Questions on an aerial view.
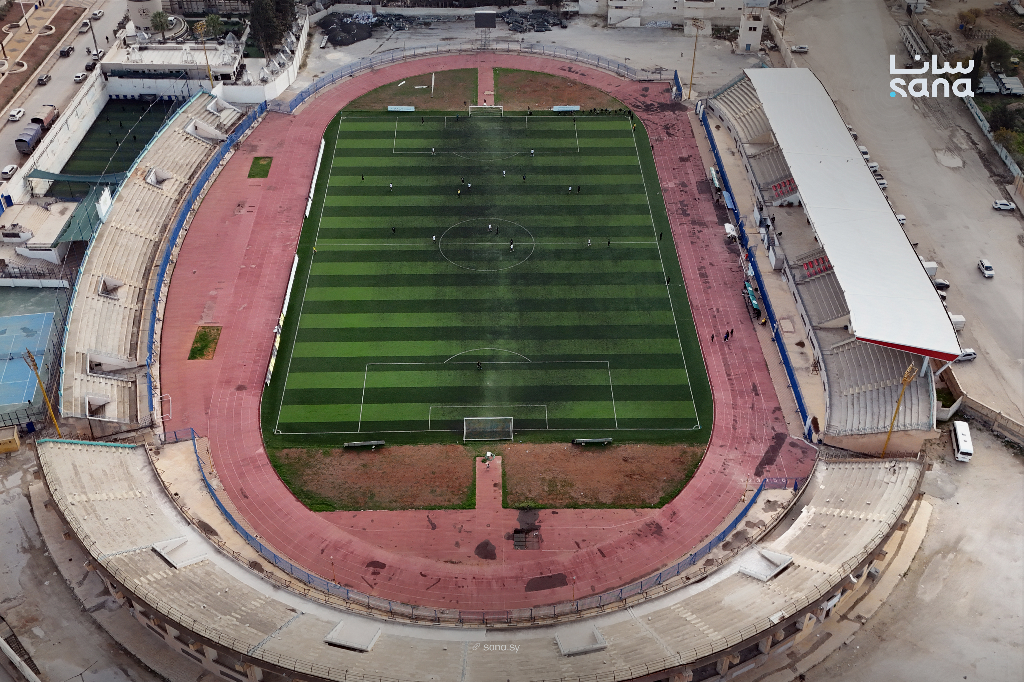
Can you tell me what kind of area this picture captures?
sports ground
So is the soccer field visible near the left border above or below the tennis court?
above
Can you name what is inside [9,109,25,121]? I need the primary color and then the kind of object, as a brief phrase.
white vehicle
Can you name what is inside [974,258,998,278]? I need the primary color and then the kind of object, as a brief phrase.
white car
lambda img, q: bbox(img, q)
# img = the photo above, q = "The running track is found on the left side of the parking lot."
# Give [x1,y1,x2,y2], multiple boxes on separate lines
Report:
[159,53,818,613]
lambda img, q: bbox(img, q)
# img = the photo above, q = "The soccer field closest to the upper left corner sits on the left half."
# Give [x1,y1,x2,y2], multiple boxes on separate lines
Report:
[48,95,185,197]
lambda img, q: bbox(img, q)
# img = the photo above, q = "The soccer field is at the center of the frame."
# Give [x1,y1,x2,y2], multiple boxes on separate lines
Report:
[263,106,712,468]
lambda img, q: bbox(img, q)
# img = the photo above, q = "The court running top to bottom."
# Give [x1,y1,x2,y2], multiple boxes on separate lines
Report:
[0,289,69,425]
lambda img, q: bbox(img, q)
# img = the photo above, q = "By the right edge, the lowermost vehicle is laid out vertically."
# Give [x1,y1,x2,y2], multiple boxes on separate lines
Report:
[950,423,973,467]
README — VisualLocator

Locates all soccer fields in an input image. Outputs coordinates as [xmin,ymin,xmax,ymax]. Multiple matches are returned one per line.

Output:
[263,106,712,468]
[48,95,185,197]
